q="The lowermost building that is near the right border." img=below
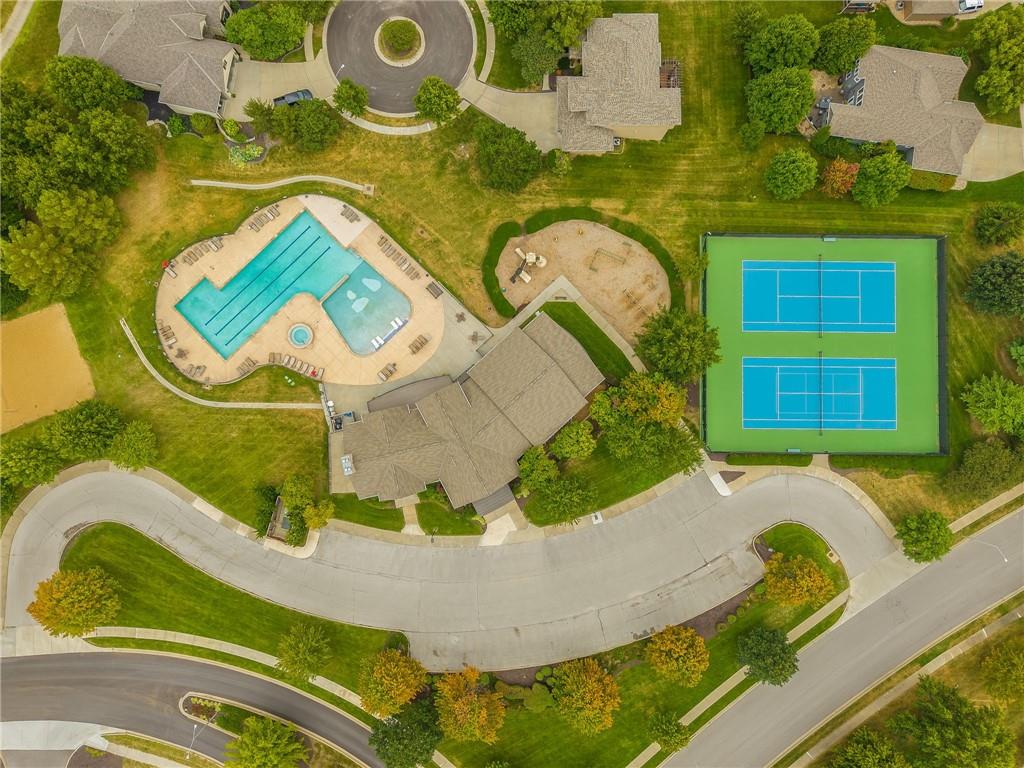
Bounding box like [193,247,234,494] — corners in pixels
[823,46,985,177]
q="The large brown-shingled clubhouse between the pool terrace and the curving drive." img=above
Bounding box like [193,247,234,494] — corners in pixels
[344,312,607,519]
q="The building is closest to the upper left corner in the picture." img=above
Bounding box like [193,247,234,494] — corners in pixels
[57,0,233,119]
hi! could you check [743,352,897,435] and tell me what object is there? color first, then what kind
blue tennis court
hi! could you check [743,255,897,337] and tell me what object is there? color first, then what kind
blue tennis court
